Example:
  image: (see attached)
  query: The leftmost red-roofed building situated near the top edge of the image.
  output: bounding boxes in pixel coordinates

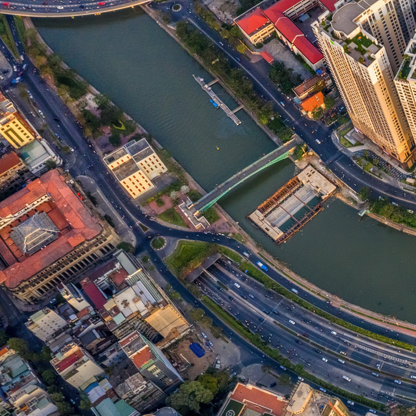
[236,8,280,49]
